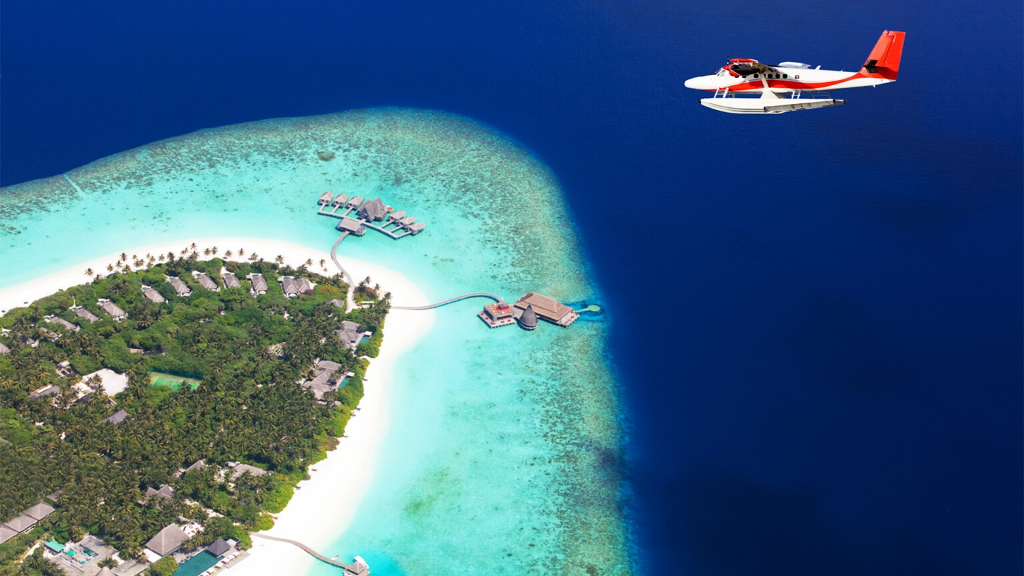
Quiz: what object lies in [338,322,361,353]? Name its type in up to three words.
house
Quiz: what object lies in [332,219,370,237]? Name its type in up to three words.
house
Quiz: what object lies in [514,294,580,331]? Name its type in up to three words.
building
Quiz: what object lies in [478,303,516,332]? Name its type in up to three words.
building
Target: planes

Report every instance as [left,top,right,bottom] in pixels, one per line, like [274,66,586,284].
[685,31,905,112]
